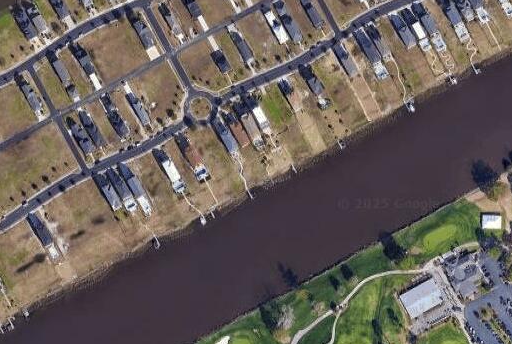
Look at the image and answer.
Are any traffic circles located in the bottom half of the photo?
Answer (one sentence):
No, no traffic circle appears in the bottom half of the photo.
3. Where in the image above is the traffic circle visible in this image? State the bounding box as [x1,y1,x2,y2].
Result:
[179,88,220,129]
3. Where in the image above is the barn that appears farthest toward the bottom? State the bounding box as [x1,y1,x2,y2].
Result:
[400,279,445,318]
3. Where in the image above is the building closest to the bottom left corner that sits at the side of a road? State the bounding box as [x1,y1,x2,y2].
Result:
[27,215,55,249]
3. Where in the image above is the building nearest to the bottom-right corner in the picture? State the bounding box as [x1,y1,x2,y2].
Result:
[446,256,490,300]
